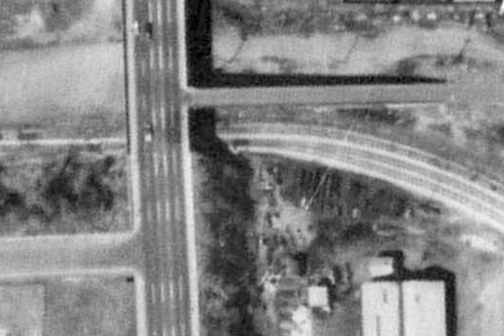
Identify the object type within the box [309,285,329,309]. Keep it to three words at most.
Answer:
shed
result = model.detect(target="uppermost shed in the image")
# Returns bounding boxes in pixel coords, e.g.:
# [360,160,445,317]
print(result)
[370,256,394,277]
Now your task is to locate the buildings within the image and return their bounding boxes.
[360,281,401,336]
[370,256,394,277]
[403,278,446,336]
[309,285,329,309]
